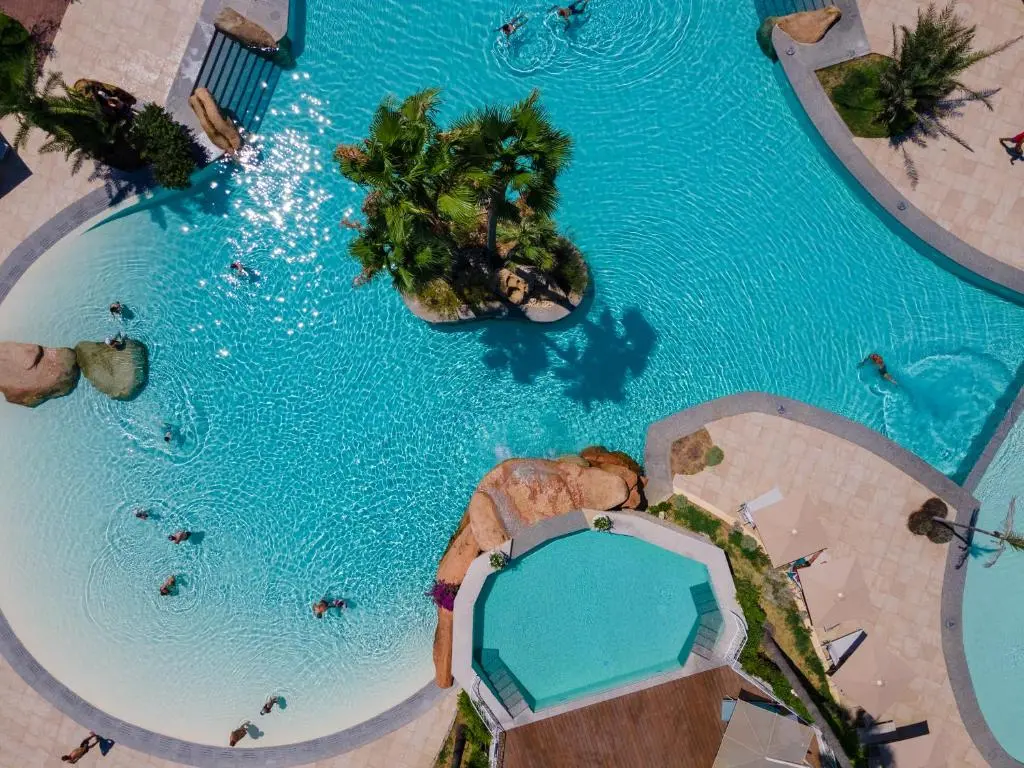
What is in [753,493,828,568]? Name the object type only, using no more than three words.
umbrella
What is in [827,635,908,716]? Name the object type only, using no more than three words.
umbrella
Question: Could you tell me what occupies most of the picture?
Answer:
water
